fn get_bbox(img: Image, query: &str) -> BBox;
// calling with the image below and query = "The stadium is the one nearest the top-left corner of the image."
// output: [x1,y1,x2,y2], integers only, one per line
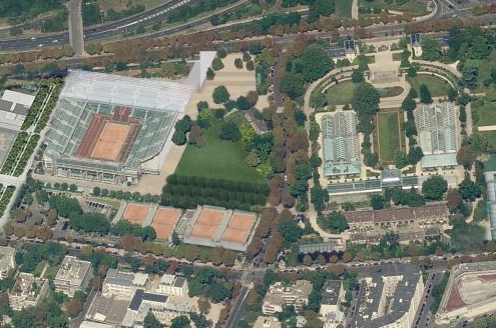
[43,68,201,187]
